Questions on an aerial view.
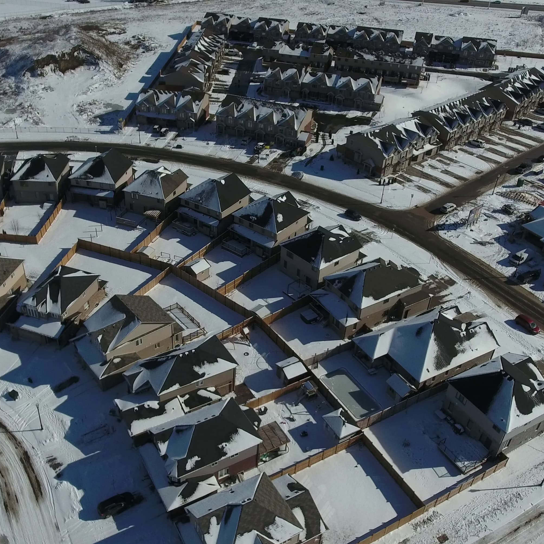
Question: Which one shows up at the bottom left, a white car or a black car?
black car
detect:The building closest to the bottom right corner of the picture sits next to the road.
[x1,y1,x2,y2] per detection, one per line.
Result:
[442,350,544,457]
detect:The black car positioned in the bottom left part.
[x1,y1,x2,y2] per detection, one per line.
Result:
[96,492,135,518]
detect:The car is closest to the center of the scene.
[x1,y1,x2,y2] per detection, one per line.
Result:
[344,209,362,221]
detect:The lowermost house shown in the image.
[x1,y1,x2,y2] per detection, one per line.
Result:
[185,462,329,544]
